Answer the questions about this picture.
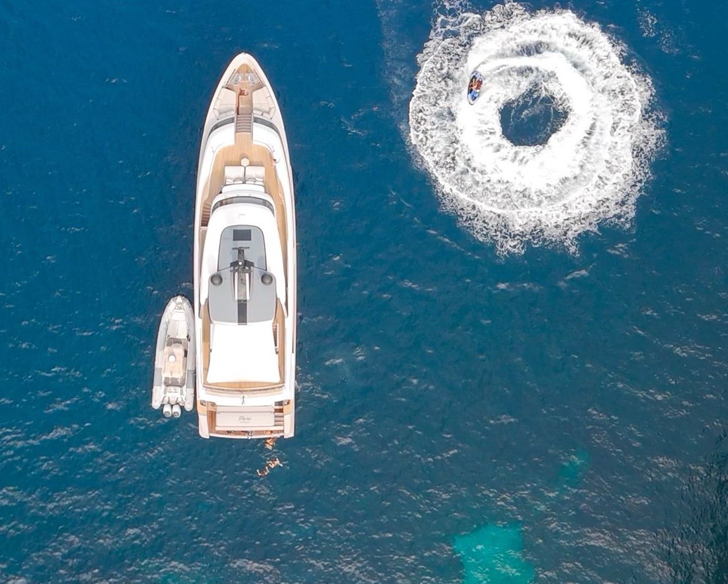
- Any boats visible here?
Yes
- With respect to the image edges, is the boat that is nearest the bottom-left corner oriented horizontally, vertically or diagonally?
vertically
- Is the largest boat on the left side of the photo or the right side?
left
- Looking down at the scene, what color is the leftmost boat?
white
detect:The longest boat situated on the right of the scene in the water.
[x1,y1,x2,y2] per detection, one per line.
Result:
[468,70,484,104]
